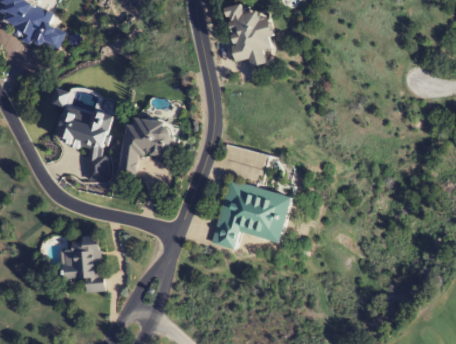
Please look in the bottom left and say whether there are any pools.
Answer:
Yes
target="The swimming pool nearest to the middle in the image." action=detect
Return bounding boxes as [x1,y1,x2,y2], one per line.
[142,96,184,124]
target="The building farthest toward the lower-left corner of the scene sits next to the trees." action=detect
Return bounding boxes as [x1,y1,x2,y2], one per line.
[62,238,108,292]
